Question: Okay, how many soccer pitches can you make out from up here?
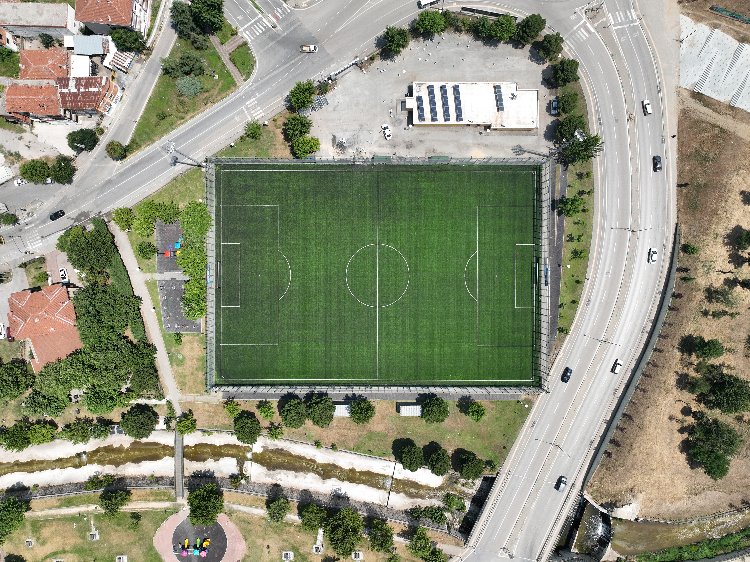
1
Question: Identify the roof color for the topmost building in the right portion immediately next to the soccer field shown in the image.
white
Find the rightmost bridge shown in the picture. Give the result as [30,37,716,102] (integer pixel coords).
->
[466,448,589,562]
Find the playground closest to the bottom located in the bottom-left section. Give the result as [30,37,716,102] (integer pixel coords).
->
[173,517,226,562]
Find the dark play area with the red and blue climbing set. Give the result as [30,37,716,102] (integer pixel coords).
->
[156,212,194,272]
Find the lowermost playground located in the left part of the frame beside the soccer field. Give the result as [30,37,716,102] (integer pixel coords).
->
[158,281,202,333]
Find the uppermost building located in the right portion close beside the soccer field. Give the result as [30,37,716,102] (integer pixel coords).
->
[412,81,539,132]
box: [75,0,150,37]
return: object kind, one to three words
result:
house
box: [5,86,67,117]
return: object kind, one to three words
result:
house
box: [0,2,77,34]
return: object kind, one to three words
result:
building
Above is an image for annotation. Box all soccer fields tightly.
[215,165,542,387]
